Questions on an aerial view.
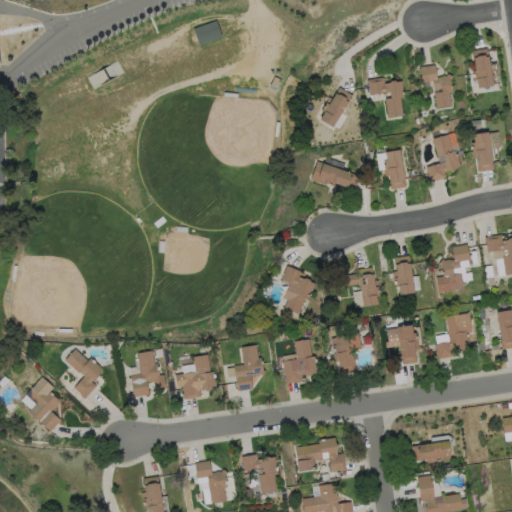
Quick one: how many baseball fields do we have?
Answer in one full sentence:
There are 3 baseball fields in the image.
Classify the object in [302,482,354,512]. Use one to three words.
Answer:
house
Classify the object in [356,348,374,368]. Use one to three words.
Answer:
swimming pool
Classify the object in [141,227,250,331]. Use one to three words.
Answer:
baseball field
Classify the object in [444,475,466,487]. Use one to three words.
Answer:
swimming pool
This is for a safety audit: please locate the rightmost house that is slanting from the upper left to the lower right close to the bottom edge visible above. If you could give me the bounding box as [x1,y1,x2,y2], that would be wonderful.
[410,474,468,512]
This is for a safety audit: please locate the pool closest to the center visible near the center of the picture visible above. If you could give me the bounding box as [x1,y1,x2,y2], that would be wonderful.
[266,282,283,304]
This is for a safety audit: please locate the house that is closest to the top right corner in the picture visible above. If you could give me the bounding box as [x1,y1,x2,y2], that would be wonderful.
[474,48,494,88]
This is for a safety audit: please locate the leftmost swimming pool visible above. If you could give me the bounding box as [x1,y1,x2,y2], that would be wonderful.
[0,386,20,406]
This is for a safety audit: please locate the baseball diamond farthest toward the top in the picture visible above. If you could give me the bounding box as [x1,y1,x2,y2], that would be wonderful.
[137,94,276,231]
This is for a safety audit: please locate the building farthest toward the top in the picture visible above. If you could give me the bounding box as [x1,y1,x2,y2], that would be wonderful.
[195,20,222,44]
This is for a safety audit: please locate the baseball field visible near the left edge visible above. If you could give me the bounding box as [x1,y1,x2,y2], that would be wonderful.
[4,190,154,332]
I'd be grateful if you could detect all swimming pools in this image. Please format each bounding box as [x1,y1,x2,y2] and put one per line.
[89,348,108,360]
[424,144,434,163]
[0,386,20,406]
[444,475,466,487]
[266,282,283,304]
[356,348,374,368]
